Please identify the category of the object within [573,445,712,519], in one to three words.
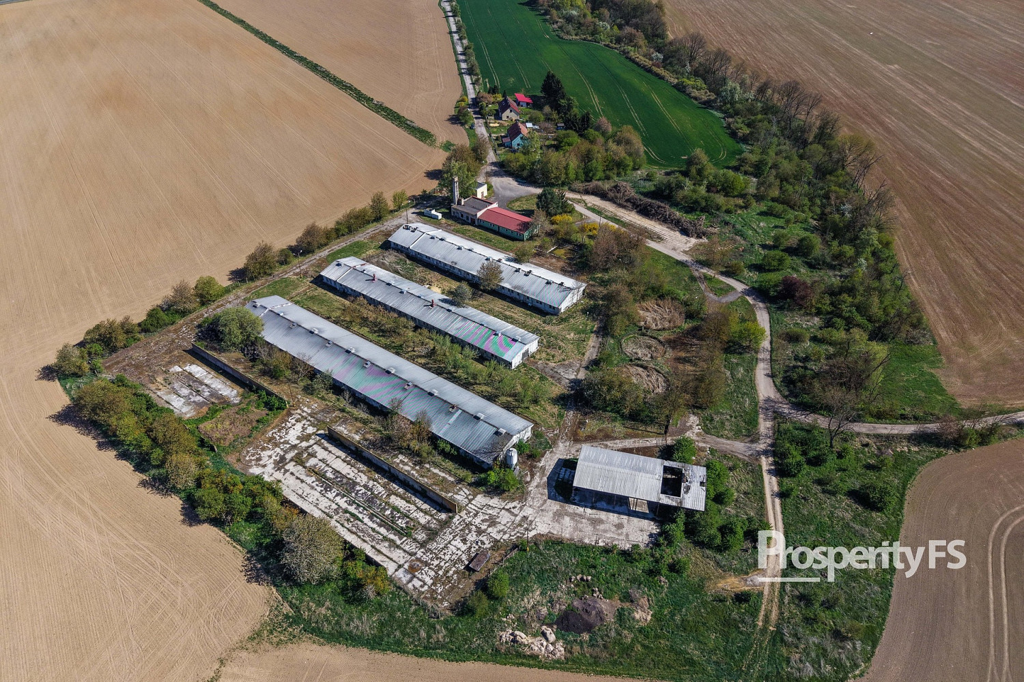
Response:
shed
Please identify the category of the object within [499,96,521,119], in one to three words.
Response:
house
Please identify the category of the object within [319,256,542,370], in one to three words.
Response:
barn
